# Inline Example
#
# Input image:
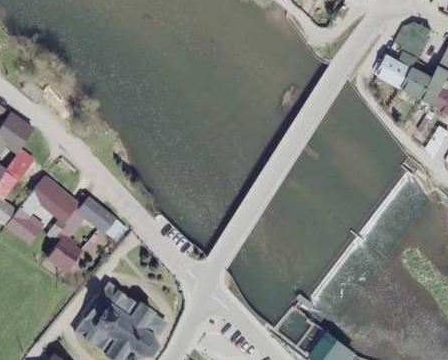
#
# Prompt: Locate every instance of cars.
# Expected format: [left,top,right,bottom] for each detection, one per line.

[241,339,249,351]
[236,336,244,346]
[247,344,255,355]
[182,242,191,253]
[169,229,177,240]
[163,224,171,236]
[426,45,434,55]
[222,322,230,333]
[176,234,184,244]
[231,330,239,341]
